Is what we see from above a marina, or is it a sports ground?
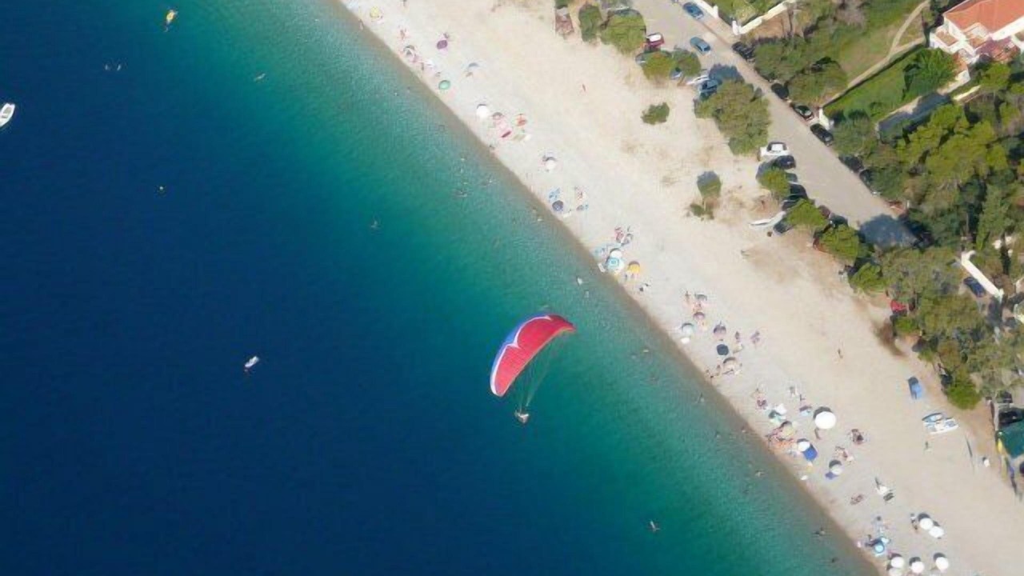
marina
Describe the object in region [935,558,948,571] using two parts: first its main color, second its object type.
white umbrella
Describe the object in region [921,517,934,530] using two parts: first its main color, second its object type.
white umbrella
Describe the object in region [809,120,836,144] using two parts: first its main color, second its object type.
black car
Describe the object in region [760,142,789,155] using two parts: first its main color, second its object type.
white vehicle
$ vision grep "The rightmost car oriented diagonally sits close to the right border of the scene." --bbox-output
[963,271,989,298]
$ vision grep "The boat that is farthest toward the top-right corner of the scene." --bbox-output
[752,209,786,224]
